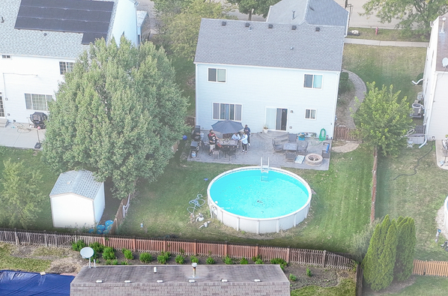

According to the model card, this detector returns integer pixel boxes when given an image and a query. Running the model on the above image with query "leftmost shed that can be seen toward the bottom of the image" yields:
[47,172,102,226]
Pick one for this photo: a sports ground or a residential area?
residential area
